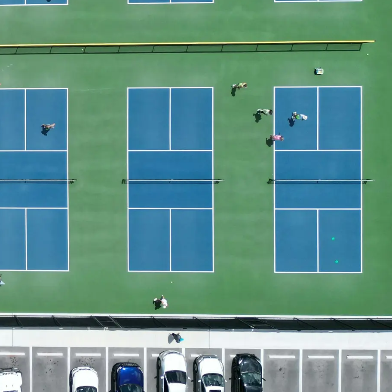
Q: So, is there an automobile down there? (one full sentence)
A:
Yes, an automobile appears in the view.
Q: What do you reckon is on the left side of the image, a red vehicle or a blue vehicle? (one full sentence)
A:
Visible on the left side of the image is a blue vehicle.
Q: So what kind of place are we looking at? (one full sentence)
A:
This image shows a sports ground.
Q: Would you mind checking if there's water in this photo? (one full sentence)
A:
No, the scene doesn't show any water.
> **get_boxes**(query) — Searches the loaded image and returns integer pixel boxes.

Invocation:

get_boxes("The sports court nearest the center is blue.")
[128,87,214,272]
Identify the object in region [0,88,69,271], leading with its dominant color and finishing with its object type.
blue sports court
